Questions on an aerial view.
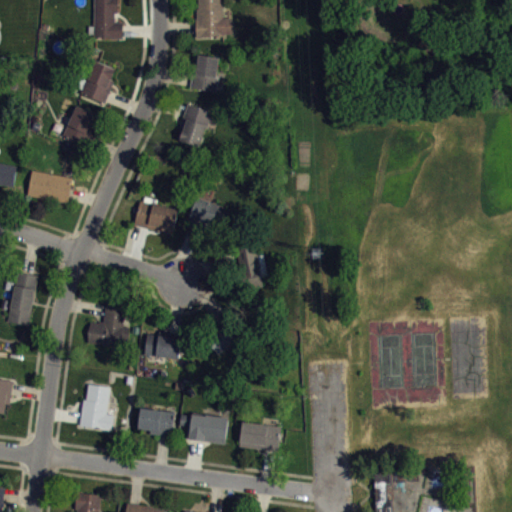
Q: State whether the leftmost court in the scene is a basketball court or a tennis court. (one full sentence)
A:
It looks like the leftmost court is a tennis court.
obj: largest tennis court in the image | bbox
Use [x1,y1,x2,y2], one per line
[370,321,445,405]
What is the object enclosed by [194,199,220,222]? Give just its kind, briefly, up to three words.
house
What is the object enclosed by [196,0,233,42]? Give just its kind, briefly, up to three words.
house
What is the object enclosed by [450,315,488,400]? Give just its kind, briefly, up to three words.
sports court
